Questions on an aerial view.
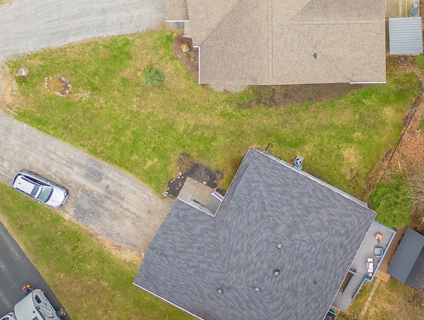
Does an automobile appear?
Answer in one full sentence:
Yes, the photo shows an automobile.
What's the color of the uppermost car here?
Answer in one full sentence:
The color of the uppermost car is white.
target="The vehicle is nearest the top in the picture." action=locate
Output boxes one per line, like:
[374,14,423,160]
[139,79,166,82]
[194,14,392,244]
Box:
[7,168,70,210]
